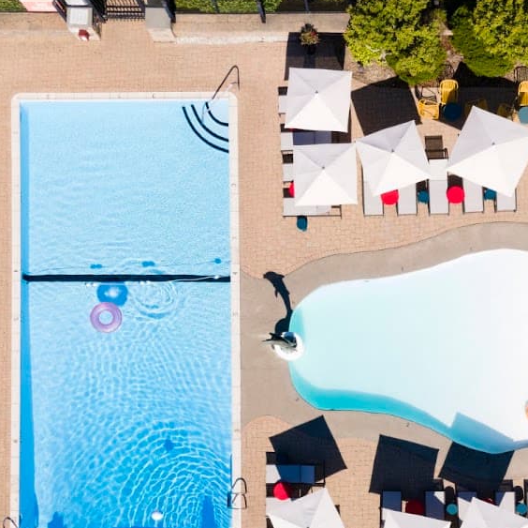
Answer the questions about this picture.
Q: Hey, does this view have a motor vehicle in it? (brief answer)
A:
No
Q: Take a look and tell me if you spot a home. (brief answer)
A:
No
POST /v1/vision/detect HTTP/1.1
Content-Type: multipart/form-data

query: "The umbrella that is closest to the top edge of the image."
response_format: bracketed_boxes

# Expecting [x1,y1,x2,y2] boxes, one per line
[283,66,351,133]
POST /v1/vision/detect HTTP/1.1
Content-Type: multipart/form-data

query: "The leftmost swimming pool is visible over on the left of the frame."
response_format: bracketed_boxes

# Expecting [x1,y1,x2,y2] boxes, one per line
[7,92,240,528]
